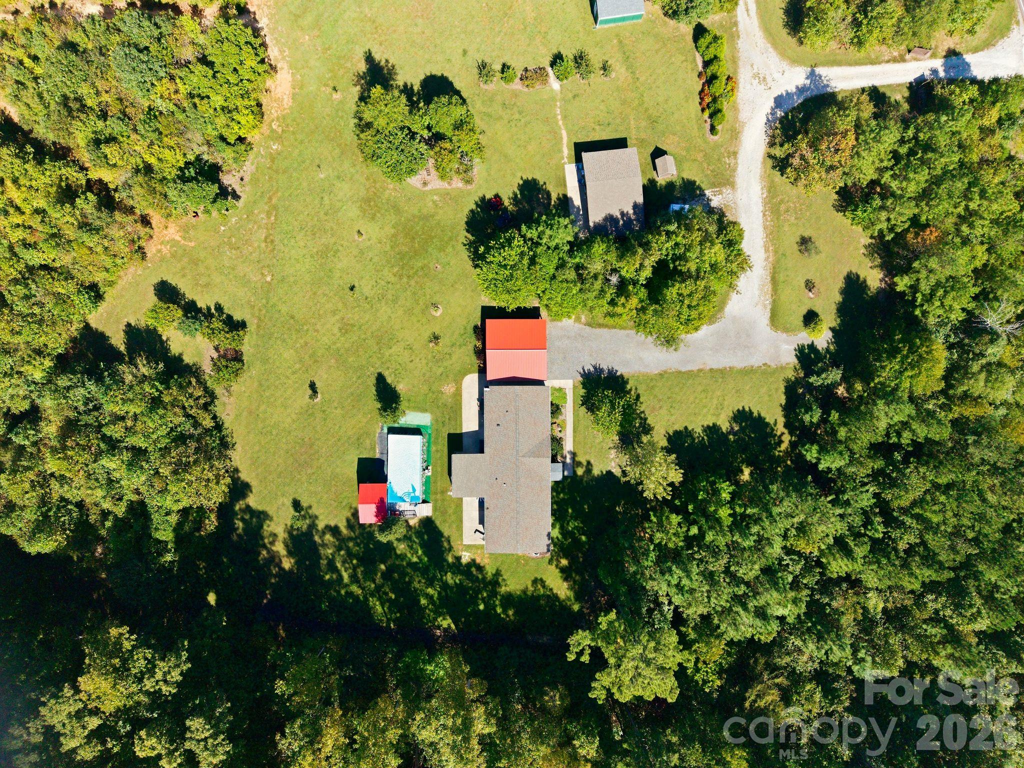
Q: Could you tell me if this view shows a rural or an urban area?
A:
rural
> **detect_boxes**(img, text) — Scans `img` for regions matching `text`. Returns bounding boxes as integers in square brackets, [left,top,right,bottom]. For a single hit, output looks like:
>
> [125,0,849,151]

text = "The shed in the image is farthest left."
[358,481,389,524]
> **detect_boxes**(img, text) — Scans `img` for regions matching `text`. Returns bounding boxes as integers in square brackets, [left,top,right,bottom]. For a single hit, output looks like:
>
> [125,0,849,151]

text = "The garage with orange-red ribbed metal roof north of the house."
[485,319,547,381]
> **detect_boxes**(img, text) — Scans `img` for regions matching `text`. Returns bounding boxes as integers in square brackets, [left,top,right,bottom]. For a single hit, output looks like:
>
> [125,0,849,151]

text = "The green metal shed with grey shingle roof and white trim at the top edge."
[594,0,646,29]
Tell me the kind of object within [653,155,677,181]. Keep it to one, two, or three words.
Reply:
shed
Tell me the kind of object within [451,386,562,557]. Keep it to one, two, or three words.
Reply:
house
